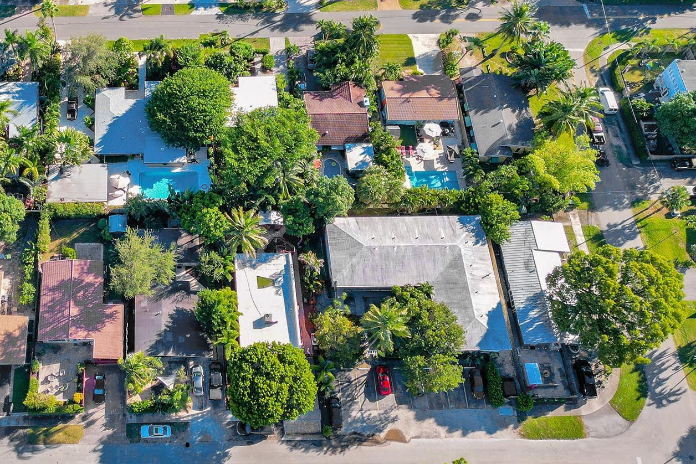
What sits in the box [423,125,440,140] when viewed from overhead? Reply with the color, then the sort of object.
white umbrella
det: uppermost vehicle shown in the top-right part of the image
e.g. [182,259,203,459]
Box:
[598,87,622,115]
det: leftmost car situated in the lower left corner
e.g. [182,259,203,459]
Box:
[91,373,105,405]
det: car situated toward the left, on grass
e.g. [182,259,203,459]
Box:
[140,423,171,439]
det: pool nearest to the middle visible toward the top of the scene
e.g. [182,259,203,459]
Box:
[321,156,344,178]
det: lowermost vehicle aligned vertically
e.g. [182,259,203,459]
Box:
[328,394,344,429]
